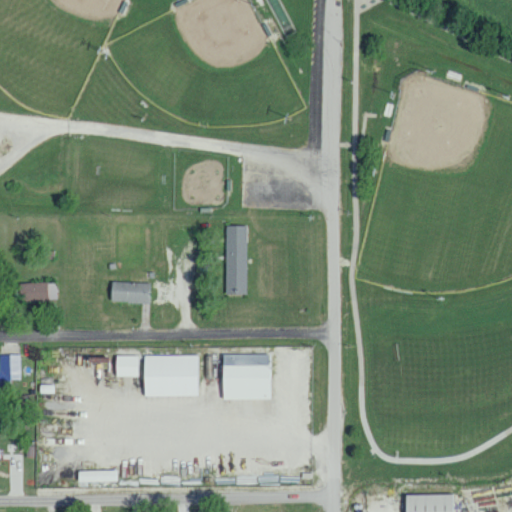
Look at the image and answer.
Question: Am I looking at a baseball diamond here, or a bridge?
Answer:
baseball diamond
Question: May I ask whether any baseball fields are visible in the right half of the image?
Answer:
Yes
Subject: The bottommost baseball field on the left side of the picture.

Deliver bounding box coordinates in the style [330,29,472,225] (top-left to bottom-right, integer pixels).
[175,152,228,210]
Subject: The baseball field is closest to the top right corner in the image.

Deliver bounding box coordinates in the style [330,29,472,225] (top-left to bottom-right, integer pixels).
[358,72,512,293]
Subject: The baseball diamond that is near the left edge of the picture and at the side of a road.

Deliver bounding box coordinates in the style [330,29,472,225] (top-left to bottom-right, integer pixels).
[0,0,122,117]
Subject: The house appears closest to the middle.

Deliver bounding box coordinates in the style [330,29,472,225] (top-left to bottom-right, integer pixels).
[224,226,250,296]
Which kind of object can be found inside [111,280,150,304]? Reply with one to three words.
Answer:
house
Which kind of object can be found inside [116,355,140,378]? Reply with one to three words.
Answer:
building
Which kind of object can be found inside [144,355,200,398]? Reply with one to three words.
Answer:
building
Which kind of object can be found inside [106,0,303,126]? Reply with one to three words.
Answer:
baseball field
